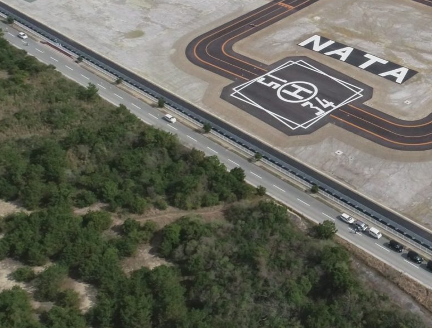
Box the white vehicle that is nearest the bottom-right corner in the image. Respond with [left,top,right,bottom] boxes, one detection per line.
[367,224,383,238]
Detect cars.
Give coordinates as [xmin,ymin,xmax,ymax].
[18,32,27,38]
[164,114,175,123]
[406,248,423,262]
[426,259,432,270]
[354,218,369,230]
[388,238,405,251]
[339,210,355,222]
